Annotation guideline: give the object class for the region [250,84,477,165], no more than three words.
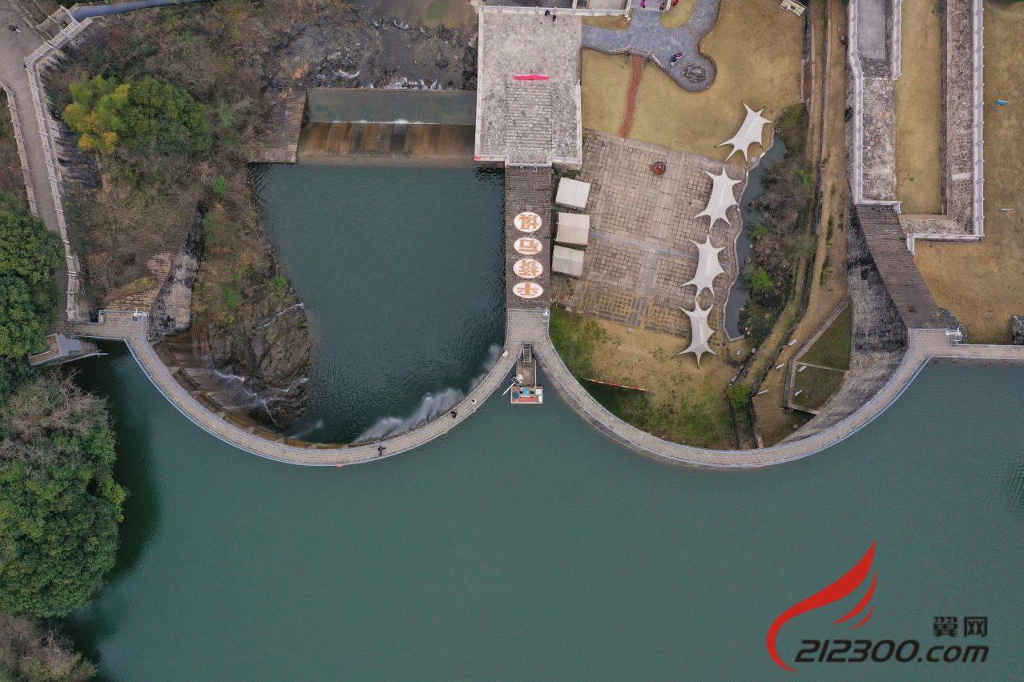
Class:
dam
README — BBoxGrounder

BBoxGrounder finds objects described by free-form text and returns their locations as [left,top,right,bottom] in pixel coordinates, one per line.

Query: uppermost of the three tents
[555,177,590,210]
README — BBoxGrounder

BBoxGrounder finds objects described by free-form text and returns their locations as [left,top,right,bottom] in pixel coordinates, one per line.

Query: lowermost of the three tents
[552,245,584,278]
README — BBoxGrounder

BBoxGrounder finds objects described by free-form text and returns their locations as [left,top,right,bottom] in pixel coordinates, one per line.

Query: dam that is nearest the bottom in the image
[66,166,1024,469]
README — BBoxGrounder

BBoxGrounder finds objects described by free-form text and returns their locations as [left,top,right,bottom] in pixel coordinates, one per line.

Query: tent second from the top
[556,212,590,246]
